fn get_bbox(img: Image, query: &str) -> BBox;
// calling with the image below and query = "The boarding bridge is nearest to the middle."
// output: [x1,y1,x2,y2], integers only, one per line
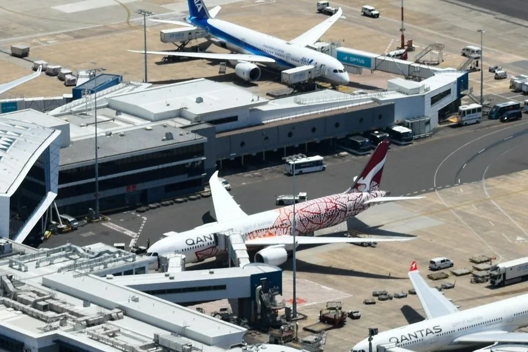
[213,230,254,268]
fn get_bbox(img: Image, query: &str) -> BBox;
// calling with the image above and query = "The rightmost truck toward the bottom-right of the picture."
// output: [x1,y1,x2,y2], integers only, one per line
[489,257,528,283]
